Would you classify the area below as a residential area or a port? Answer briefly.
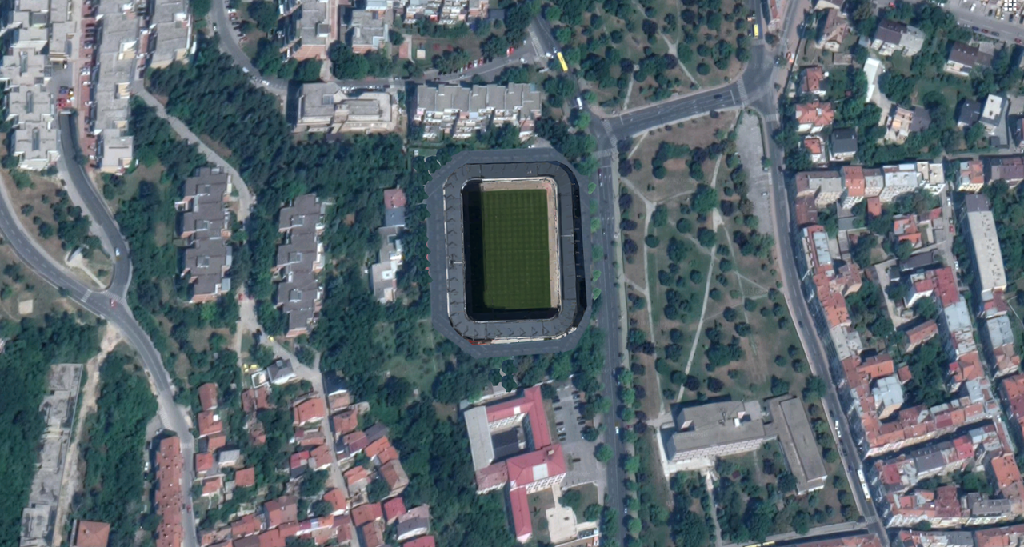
residential area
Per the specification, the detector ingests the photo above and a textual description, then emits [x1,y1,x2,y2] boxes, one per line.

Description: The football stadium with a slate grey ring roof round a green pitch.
[425,149,591,358]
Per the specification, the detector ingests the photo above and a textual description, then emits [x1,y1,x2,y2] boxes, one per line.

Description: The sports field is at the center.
[482,189,550,310]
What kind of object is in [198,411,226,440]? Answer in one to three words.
house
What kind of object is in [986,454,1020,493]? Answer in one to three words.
house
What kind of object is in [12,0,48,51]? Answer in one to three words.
building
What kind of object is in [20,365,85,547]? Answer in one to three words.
building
